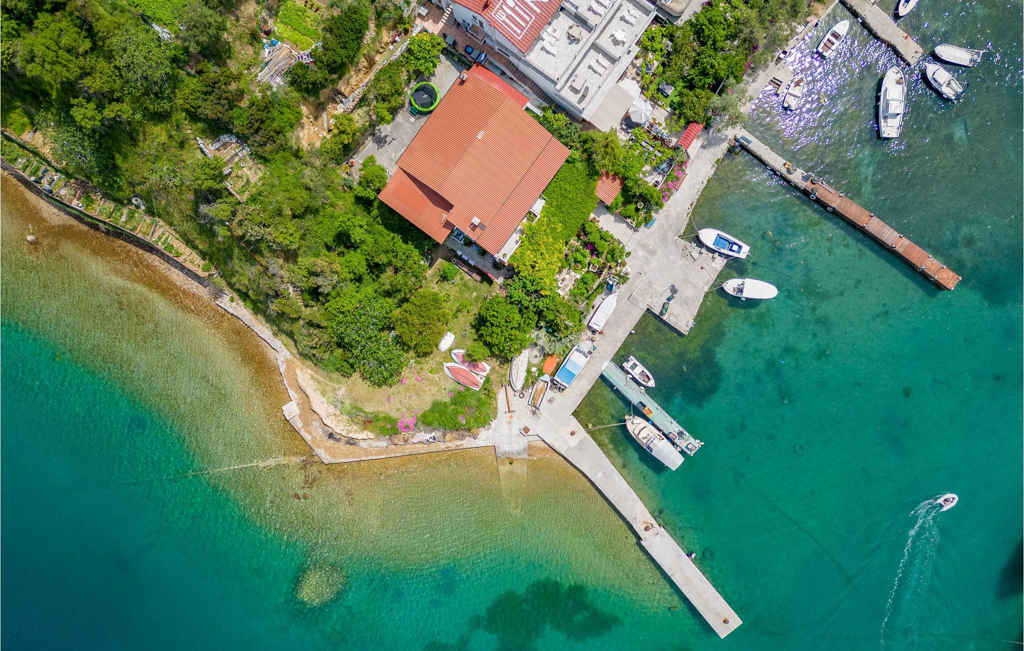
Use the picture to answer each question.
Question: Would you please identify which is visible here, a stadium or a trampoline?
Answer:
trampoline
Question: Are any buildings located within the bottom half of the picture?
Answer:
No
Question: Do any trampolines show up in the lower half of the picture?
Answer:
No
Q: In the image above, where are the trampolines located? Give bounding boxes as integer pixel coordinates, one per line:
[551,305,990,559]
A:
[407,74,440,115]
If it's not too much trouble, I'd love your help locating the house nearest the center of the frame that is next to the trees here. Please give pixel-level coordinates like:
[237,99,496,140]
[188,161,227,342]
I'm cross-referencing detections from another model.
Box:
[380,64,570,265]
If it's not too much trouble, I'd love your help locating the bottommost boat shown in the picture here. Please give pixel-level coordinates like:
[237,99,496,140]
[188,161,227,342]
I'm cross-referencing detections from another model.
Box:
[935,495,958,512]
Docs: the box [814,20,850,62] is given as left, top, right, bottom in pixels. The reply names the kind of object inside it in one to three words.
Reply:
boat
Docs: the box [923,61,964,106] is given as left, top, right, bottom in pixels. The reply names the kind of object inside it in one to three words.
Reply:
boat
